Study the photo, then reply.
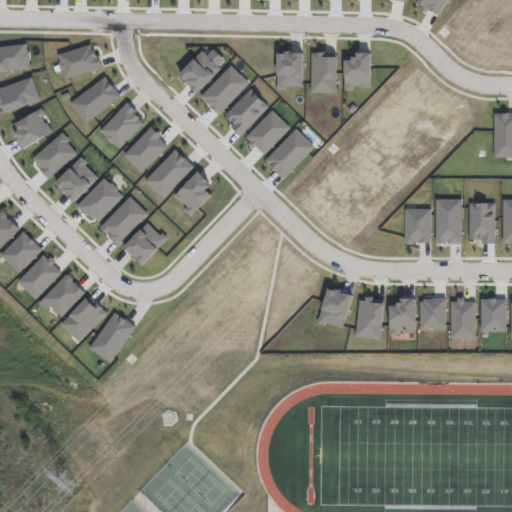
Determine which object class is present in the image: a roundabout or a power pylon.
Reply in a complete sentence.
It is a power pylon that can be seen here.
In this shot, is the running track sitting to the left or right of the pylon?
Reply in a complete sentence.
To the right of the pylon is where the running track appears.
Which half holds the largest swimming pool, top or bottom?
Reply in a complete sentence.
You can find the largest swimming pool in the top half.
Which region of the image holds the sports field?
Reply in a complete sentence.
The sports field appears toward the bottom right of the photo.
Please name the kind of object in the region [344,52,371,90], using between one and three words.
house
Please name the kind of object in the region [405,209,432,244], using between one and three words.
house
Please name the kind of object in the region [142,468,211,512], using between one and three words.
tennis court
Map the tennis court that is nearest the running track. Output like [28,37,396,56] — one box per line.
[164,444,240,512]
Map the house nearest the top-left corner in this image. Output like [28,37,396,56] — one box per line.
[0,42,30,74]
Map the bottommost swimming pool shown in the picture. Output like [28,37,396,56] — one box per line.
[302,126,324,148]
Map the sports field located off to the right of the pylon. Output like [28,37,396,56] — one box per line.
[270,395,512,512]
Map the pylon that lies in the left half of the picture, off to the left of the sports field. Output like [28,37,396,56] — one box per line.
[44,466,82,496]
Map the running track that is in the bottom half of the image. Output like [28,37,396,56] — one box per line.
[257,382,512,512]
